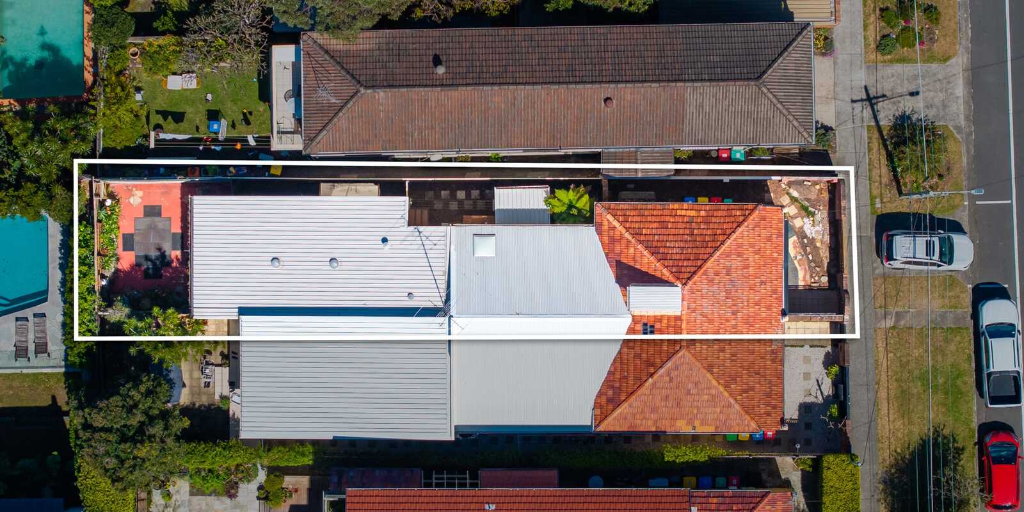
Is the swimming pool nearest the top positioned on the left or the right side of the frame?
left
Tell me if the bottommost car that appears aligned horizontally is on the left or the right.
right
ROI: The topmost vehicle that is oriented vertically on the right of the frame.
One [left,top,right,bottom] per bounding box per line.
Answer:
[977,296,1024,407]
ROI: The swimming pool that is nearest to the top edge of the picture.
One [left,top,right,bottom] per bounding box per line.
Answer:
[0,0,83,97]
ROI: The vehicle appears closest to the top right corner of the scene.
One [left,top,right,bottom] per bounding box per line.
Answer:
[879,228,974,273]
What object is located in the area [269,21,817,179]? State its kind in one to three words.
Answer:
building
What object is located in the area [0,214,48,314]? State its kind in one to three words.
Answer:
swimming pool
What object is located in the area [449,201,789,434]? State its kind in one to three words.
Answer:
house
